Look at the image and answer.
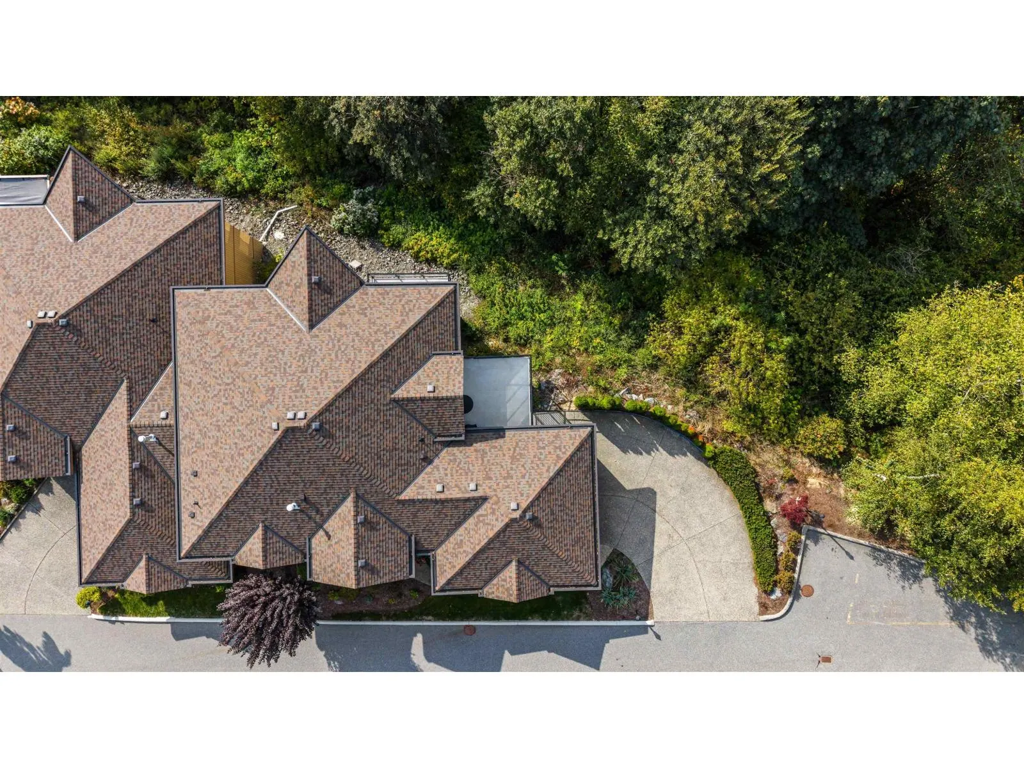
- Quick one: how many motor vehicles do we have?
none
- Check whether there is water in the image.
No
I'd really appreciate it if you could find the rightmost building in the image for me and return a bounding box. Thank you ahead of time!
[169,226,604,602]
